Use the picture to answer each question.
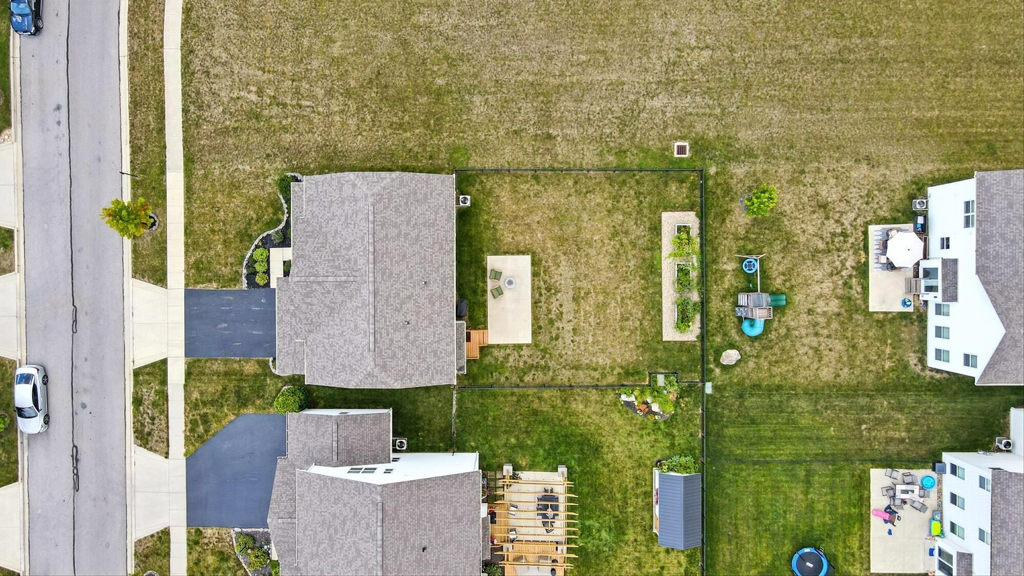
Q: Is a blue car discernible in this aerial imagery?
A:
Yes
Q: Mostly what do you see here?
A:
grass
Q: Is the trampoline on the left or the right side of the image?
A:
right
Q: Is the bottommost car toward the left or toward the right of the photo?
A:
left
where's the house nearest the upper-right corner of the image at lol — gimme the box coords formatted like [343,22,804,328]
[920,169,1024,386]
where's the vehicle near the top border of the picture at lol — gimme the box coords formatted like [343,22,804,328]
[2,0,44,36]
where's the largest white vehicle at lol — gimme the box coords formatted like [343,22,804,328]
[8,365,49,435]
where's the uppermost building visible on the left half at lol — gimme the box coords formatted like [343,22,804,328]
[274,171,468,388]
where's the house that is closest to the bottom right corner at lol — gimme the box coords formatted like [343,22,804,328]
[936,407,1024,576]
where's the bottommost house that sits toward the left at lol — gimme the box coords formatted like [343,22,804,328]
[268,408,492,576]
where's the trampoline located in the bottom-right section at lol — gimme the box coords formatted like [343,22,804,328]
[786,540,836,576]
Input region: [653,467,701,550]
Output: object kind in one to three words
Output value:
shed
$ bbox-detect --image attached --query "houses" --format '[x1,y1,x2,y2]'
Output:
[274,171,468,388]
[920,169,1024,386]
[936,407,1024,576]
[268,408,492,576]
